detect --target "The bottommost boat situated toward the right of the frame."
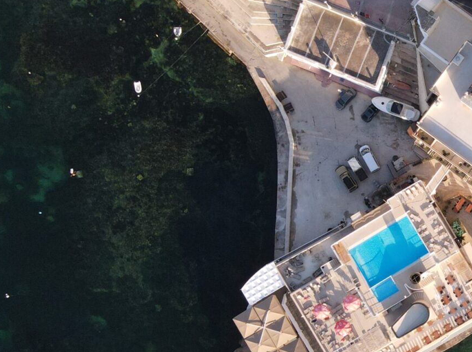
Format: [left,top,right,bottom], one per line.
[372,99,422,124]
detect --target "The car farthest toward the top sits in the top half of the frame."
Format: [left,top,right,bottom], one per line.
[334,87,359,111]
